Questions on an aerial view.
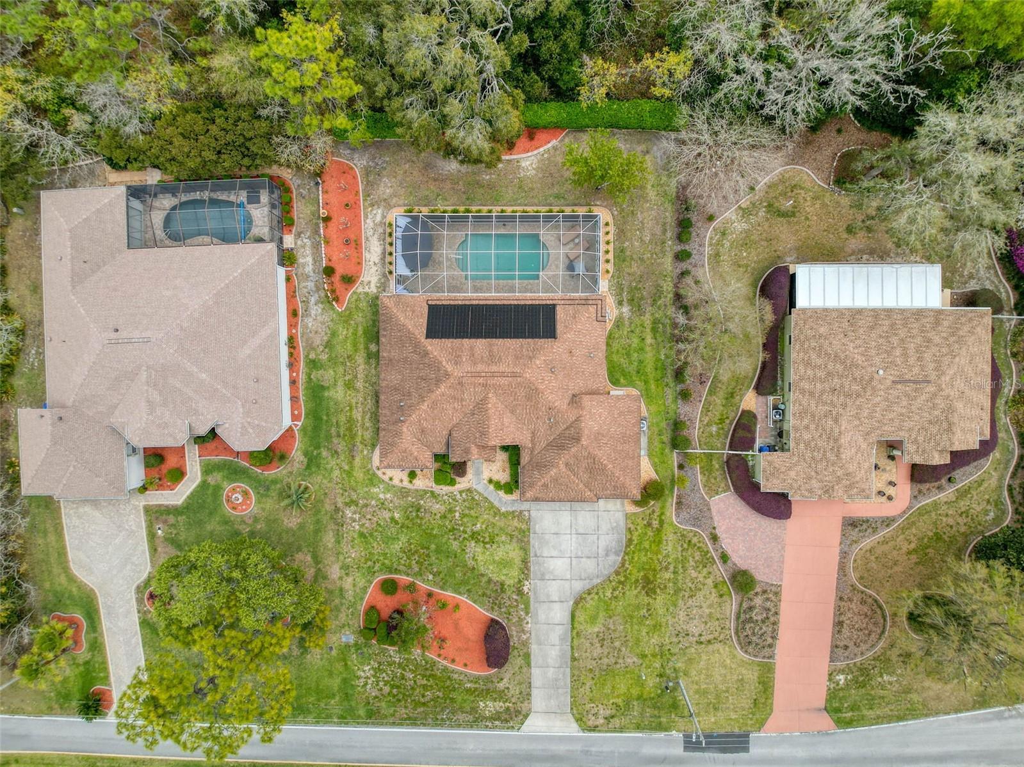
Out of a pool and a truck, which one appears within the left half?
pool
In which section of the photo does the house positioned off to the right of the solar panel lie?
right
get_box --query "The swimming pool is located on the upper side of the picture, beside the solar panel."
[455,233,551,282]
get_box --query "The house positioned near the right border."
[753,263,992,501]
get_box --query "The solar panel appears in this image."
[426,299,606,338]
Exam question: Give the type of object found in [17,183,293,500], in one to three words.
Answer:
house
